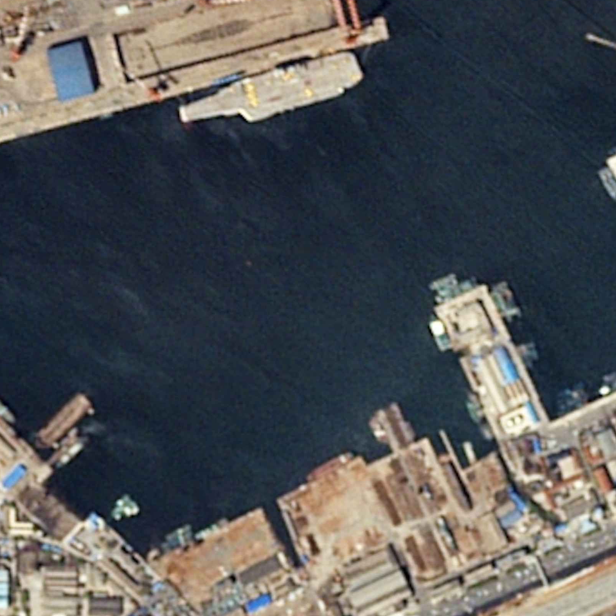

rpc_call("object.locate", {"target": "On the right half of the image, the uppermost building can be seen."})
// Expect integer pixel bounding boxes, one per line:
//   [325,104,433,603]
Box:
[458,302,491,336]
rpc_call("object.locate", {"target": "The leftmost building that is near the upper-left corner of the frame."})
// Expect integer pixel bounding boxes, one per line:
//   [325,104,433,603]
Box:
[46,38,95,102]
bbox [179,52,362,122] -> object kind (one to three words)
ship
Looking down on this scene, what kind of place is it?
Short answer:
port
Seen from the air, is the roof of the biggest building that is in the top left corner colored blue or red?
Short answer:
blue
